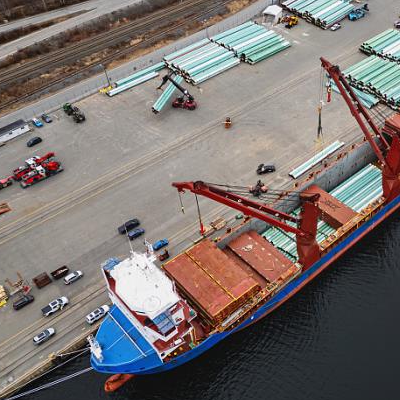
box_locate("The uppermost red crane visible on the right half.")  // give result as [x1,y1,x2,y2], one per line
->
[312,59,400,200]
